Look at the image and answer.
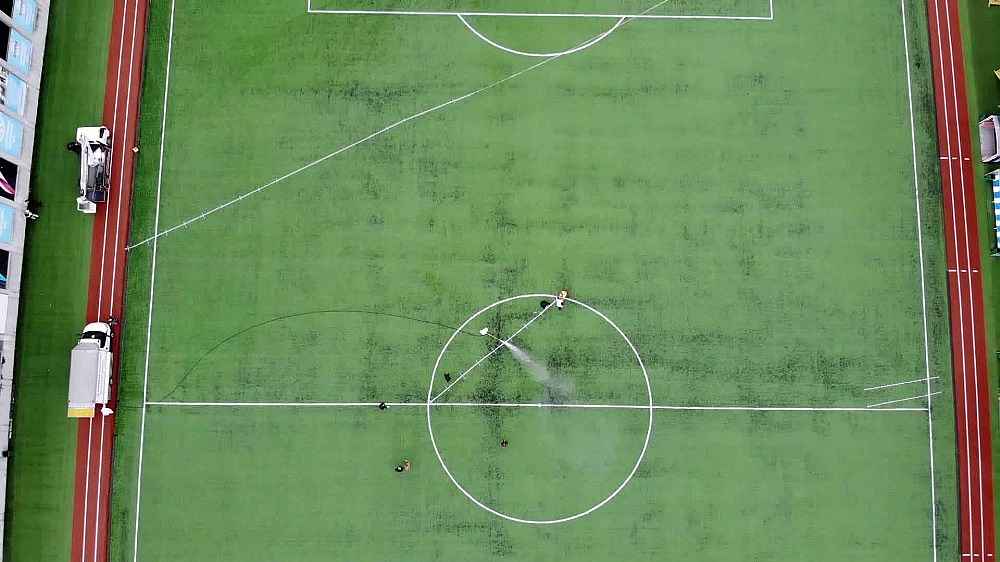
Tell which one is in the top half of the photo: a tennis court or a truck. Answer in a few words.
truck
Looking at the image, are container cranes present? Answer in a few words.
No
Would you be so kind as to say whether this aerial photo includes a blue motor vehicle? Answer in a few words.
No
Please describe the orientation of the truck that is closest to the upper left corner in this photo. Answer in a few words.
vertically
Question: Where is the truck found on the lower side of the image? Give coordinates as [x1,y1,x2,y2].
[67,322,116,418]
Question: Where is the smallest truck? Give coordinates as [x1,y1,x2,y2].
[75,128,113,212]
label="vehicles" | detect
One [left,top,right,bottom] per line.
[75,128,113,212]
[67,322,116,418]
